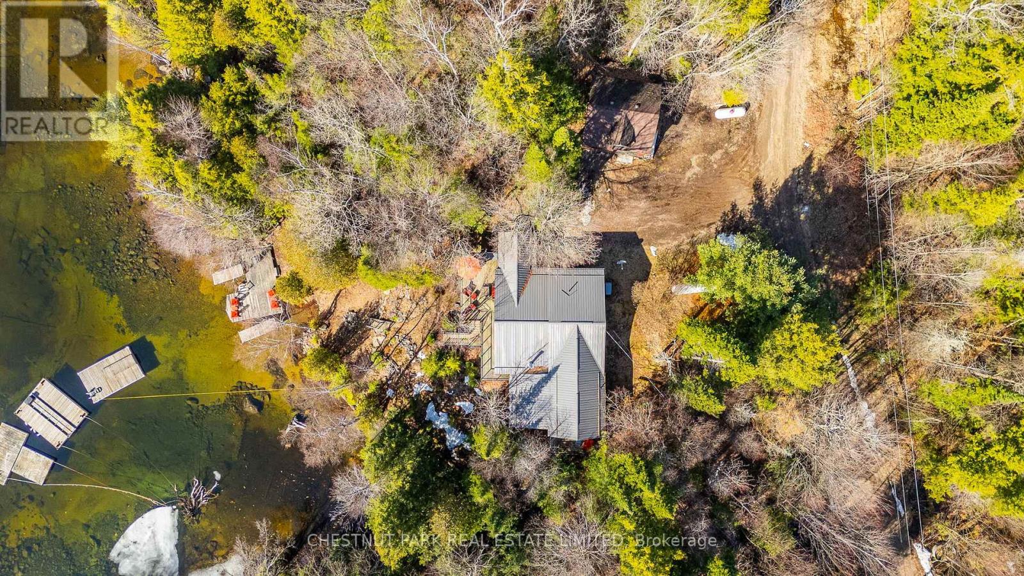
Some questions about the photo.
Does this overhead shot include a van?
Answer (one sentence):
No, the picture doesn't show any van.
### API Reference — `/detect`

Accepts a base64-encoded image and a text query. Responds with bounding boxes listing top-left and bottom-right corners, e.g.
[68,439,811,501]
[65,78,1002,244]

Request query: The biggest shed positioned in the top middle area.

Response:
[582,86,660,162]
